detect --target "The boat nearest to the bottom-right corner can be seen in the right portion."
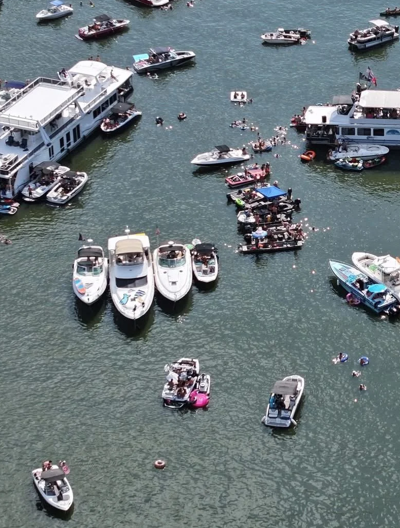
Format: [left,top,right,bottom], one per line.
[264,378,302,432]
